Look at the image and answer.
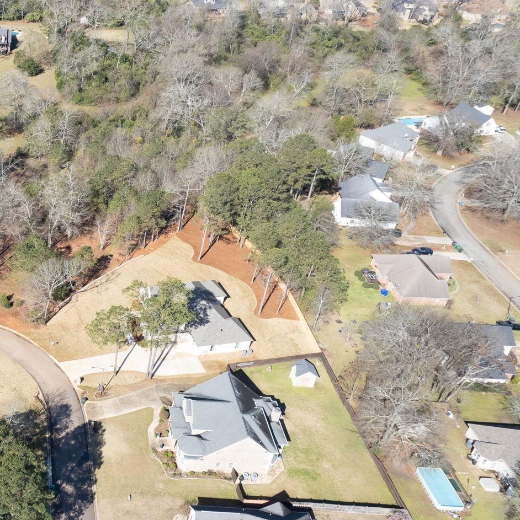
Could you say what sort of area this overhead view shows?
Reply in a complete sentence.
What you see here is a residential area.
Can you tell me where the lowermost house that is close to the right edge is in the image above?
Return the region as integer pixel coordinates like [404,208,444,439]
[466,424,520,501]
